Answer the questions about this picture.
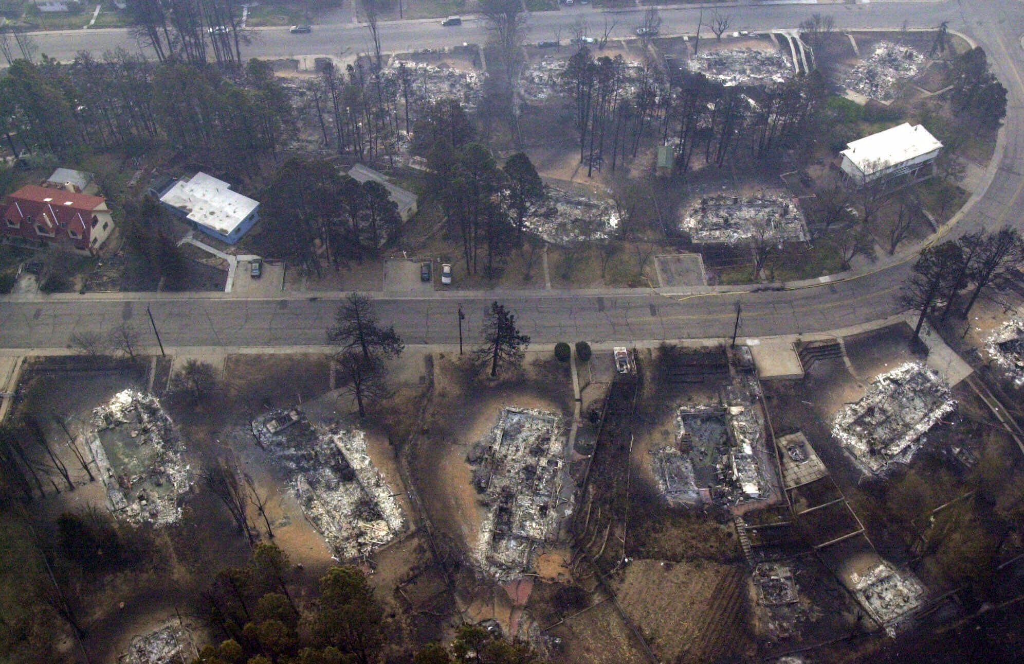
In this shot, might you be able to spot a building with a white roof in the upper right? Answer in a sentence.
Yes, in the upper right there is a building with a white roof.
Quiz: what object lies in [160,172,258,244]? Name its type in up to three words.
house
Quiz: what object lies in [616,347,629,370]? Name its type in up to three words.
vehicle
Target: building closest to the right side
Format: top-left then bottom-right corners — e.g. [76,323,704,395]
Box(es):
[837,123,944,197]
